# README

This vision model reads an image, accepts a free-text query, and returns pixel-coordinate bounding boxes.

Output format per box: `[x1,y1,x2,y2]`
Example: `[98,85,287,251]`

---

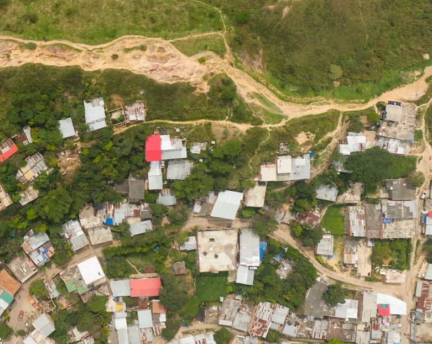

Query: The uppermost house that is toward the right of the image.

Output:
[370,101,417,141]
